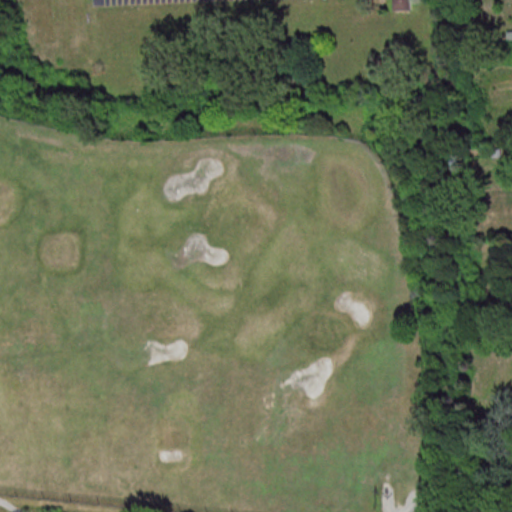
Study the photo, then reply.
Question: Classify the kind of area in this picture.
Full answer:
The picture captures a golf course.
